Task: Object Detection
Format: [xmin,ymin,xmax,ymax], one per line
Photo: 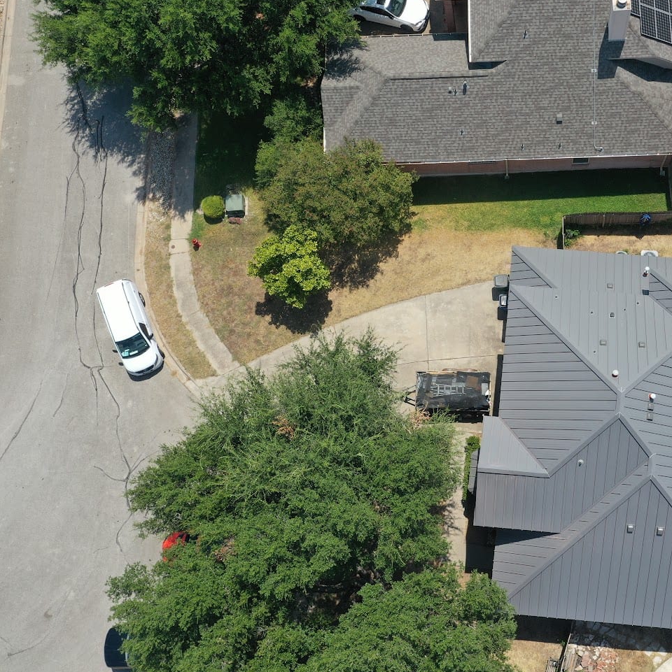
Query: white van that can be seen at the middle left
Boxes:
[99,285,171,382]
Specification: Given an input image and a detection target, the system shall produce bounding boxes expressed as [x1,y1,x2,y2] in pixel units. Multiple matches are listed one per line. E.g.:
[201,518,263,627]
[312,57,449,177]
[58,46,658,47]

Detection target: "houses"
[321,0,672,190]
[474,245,672,629]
